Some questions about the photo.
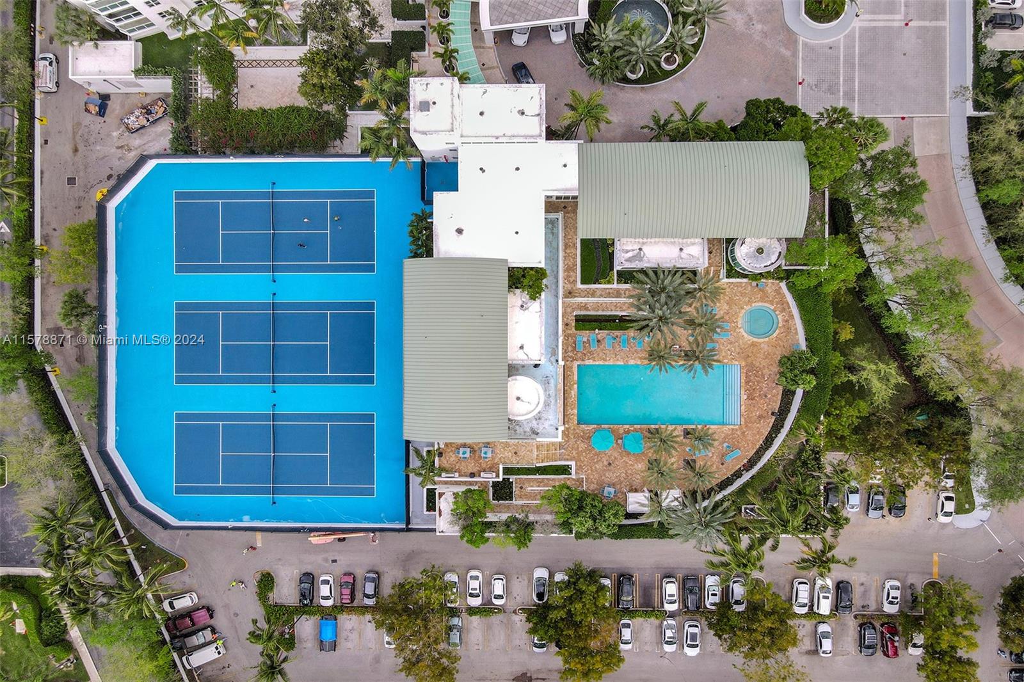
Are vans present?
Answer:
Yes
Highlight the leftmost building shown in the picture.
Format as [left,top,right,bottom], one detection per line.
[68,41,171,91]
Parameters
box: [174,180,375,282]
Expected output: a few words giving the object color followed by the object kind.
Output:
blue tennis court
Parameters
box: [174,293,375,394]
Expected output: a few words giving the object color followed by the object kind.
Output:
blue tennis court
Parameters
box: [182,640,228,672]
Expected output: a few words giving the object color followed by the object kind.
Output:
white van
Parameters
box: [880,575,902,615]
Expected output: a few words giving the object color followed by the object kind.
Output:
white car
